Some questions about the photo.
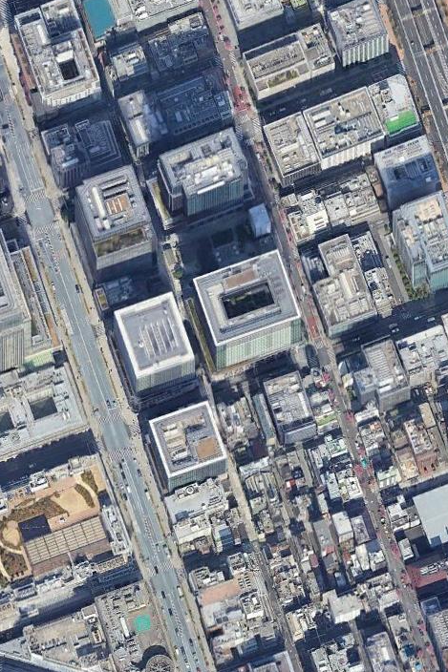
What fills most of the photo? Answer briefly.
buildings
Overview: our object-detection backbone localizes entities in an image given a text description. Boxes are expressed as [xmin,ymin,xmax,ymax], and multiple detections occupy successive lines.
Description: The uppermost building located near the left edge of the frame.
[15,0,101,113]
